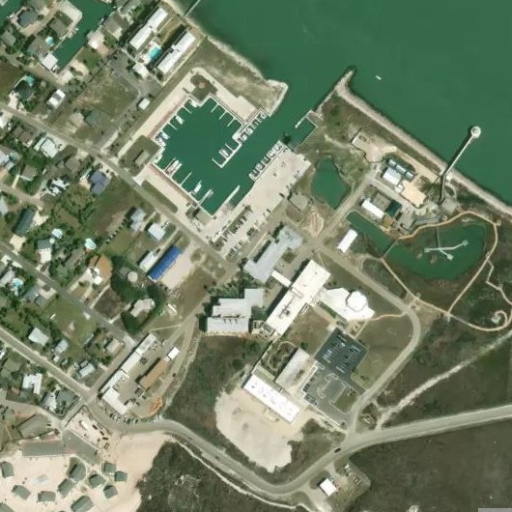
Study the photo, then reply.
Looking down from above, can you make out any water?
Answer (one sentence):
Yes, water shows up in the scene.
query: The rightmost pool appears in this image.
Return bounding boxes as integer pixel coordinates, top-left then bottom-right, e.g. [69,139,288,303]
[146,44,161,60]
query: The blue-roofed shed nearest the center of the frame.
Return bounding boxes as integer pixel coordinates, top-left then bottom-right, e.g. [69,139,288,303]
[146,242,179,283]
